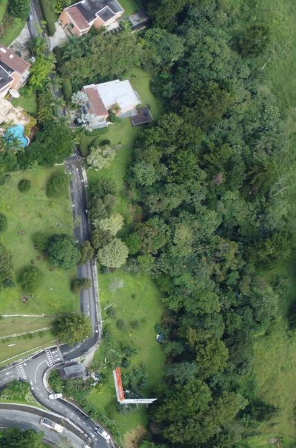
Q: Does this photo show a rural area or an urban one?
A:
rural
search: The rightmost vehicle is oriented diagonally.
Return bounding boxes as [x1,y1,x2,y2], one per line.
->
[98,427,113,442]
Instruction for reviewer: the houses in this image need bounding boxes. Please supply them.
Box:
[0,45,32,100]
[58,0,125,40]
[75,79,143,128]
